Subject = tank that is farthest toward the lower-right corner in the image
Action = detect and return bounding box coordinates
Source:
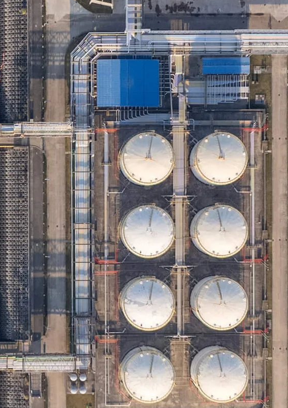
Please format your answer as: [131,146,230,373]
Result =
[190,344,250,404]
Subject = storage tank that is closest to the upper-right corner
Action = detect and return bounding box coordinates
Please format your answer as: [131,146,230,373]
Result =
[190,128,250,186]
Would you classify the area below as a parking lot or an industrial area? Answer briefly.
industrial area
